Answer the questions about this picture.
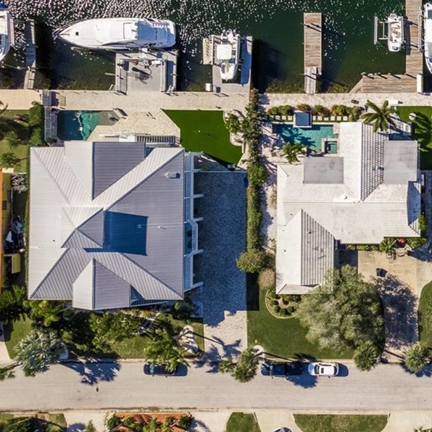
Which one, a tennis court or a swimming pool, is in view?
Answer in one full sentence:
I can see a swimming pool in this picture.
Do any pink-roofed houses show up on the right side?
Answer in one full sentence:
No, the scene shows no pink-roofed house on the right side.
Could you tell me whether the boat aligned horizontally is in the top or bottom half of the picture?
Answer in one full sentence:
The boat aligned horizontally sits in the top half of the picture.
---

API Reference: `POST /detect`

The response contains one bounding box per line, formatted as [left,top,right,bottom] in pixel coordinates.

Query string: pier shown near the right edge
[351,0,424,92]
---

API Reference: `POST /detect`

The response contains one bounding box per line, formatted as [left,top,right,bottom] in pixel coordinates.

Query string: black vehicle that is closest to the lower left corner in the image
[144,363,178,379]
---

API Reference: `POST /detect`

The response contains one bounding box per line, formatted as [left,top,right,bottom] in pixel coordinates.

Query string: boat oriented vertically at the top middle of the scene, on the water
[217,29,238,79]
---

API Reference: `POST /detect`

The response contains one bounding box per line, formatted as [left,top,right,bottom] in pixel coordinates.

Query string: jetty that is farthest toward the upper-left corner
[23,17,46,90]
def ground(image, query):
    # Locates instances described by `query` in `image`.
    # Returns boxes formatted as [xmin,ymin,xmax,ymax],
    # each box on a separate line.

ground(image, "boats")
[0,0,15,68]
[425,0,432,70]
[51,18,180,50]
[217,29,238,79]
[388,10,403,51]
